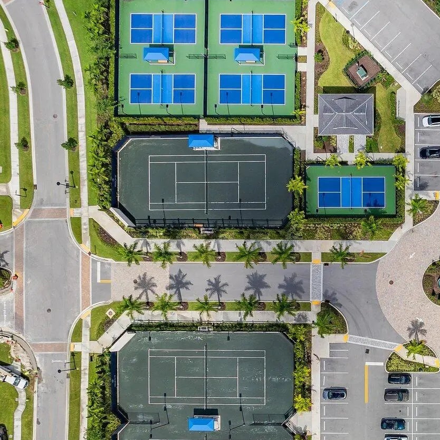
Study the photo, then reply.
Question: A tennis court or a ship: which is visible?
tennis court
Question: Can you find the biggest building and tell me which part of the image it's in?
top right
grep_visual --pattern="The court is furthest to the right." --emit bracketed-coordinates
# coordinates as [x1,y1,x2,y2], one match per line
[306,165,396,214]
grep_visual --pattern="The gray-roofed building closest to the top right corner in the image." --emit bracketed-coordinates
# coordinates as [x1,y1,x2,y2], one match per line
[318,93,376,137]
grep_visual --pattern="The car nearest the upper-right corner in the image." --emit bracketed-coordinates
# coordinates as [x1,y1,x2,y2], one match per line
[422,114,440,127]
